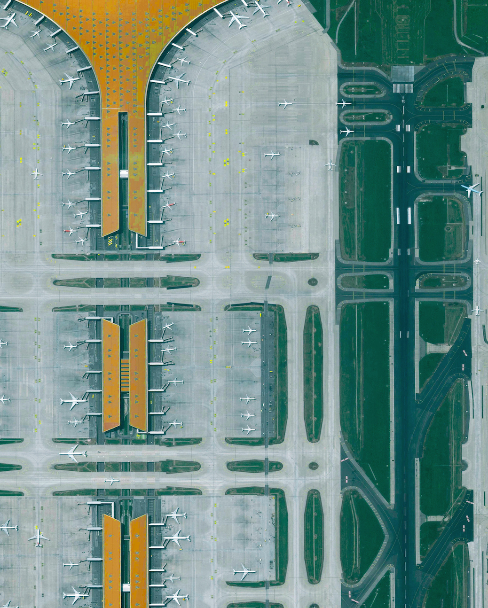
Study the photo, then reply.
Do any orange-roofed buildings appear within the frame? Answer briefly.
Yes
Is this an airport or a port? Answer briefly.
airport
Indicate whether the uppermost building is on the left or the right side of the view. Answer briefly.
left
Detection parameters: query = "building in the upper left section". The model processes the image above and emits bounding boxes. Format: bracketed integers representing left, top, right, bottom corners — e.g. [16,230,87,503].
[17,0,226,237]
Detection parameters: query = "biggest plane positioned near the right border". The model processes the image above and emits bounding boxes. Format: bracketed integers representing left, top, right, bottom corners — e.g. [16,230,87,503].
[462,182,483,198]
